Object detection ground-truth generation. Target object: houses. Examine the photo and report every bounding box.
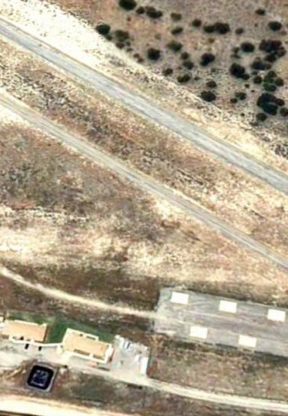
[0,320,46,343]
[61,330,112,365]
